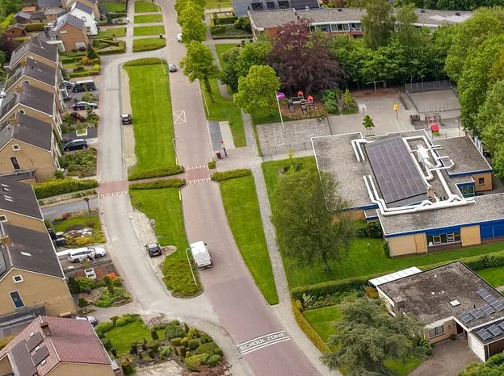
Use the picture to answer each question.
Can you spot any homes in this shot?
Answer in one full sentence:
Yes, the photo shows a home.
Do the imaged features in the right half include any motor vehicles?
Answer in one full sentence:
No, looking in the right half, there is no motor vehicle.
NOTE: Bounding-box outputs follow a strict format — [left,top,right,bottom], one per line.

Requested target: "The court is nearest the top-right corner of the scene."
[408,91,460,111]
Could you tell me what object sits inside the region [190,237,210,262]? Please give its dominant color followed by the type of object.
white vehicle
